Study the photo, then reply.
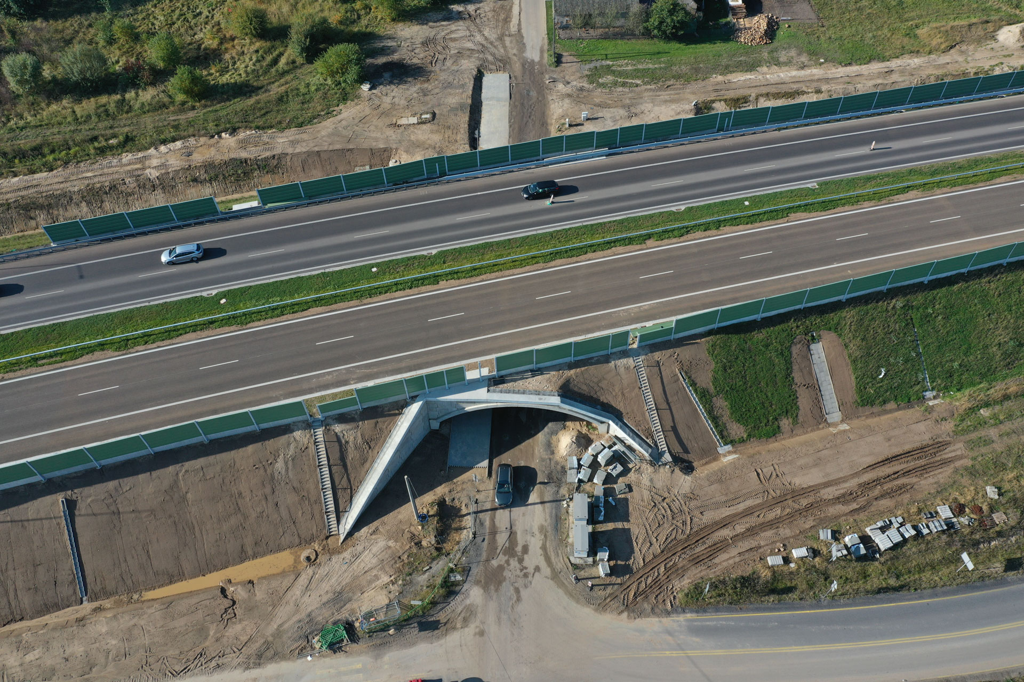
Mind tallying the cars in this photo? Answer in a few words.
3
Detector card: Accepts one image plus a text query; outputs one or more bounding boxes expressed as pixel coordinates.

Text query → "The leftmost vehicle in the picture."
[160,241,203,265]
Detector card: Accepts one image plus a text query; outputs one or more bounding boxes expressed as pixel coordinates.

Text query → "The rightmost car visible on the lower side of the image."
[492,466,516,511]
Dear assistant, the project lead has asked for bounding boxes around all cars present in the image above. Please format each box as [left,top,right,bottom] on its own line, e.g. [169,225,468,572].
[492,466,516,511]
[160,241,203,265]
[520,177,561,199]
